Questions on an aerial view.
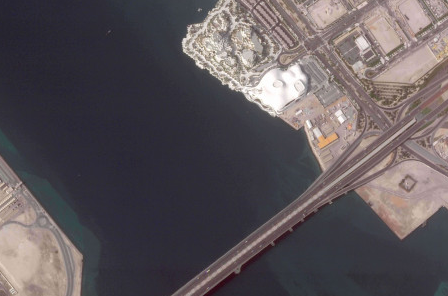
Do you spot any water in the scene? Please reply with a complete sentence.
Yes, some water is visible.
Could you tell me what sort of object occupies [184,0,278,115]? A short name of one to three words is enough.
building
